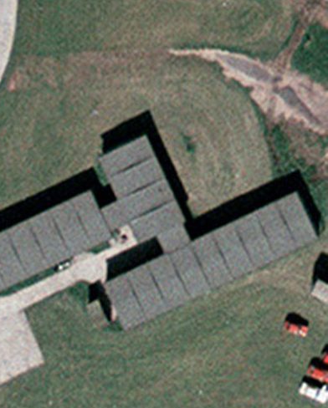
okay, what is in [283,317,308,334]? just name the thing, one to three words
car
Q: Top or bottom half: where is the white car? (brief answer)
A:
bottom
